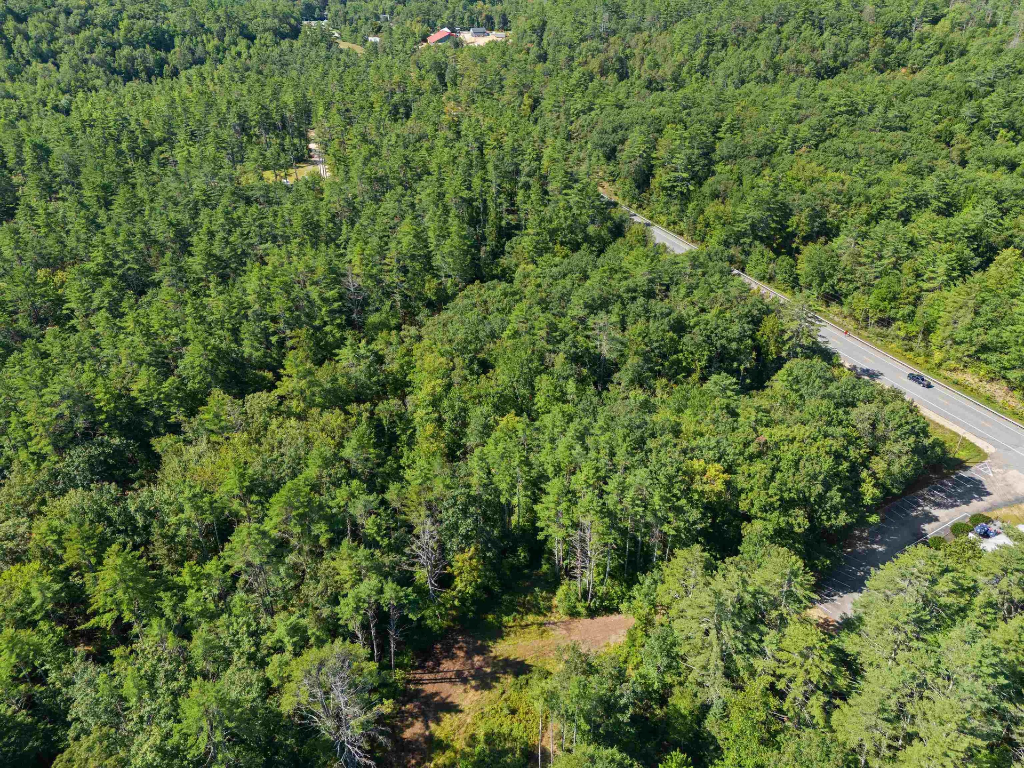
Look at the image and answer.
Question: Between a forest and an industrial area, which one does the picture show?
forest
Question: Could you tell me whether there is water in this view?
No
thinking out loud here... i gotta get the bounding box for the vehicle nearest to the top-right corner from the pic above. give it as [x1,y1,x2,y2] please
[905,375,932,389]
